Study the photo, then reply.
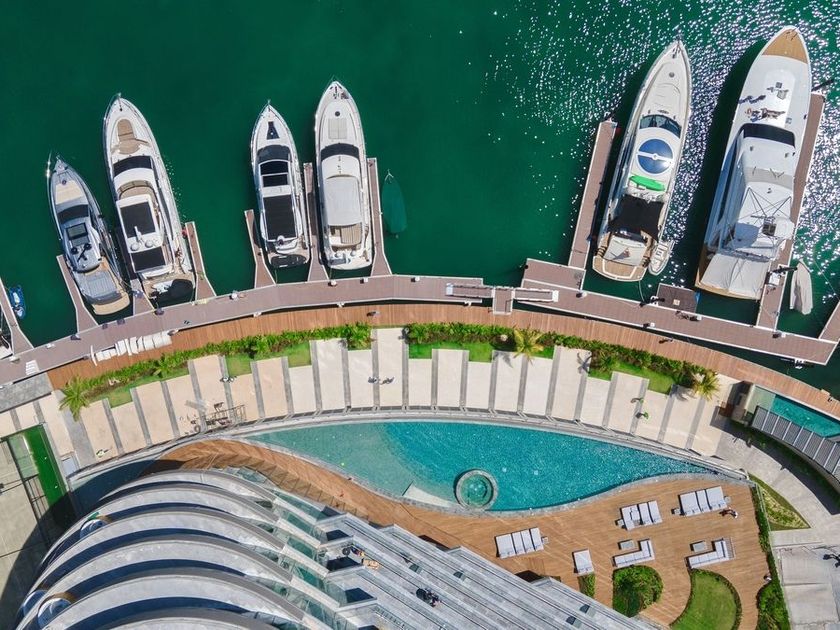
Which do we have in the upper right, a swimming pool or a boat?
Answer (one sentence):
There is a boat in the upper right.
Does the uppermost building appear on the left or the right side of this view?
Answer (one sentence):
It is on the right.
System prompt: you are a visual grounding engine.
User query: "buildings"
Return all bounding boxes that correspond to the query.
[718,382,754,427]
[11,468,653,630]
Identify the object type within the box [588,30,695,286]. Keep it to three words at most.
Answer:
boat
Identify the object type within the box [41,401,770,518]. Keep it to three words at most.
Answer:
swimming pool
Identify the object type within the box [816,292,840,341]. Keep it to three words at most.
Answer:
pier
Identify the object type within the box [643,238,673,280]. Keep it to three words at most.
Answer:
boat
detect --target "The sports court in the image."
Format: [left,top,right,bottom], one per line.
[0,425,75,562]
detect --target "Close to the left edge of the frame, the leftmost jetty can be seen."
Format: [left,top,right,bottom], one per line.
[0,264,38,354]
